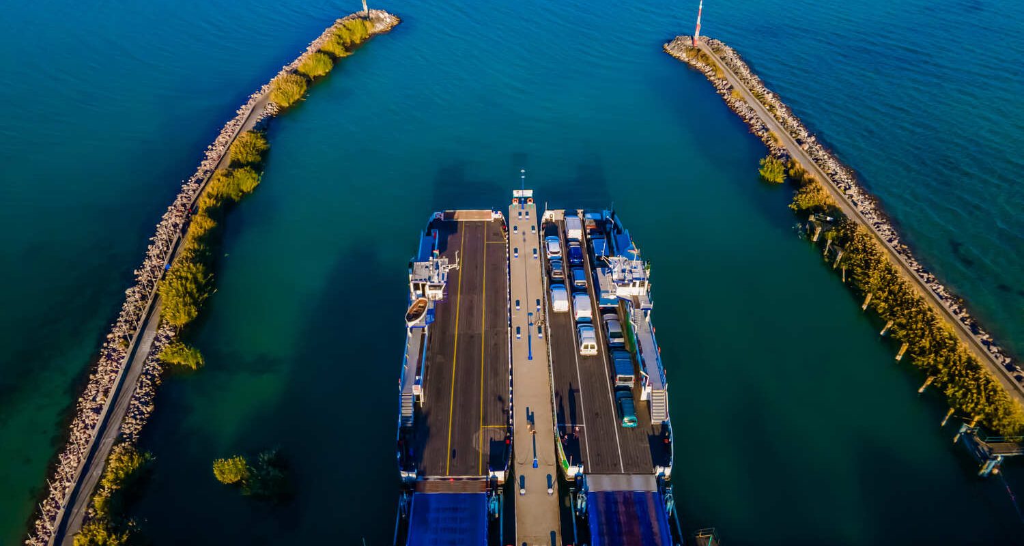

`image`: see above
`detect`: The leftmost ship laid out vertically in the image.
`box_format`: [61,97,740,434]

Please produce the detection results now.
[393,212,511,508]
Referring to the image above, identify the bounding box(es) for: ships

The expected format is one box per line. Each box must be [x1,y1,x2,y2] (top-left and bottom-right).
[541,211,676,506]
[393,212,511,508]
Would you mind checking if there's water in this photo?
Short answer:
Yes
